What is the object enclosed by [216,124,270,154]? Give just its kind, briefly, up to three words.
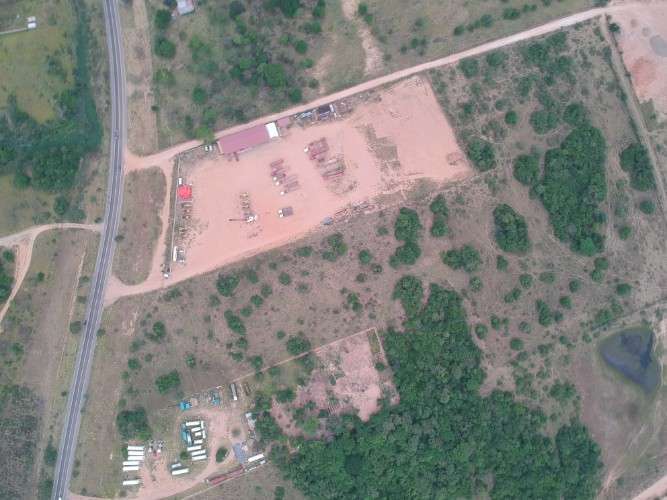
building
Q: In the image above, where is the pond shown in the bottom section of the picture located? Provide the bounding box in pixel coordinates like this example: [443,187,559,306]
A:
[600,329,660,392]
